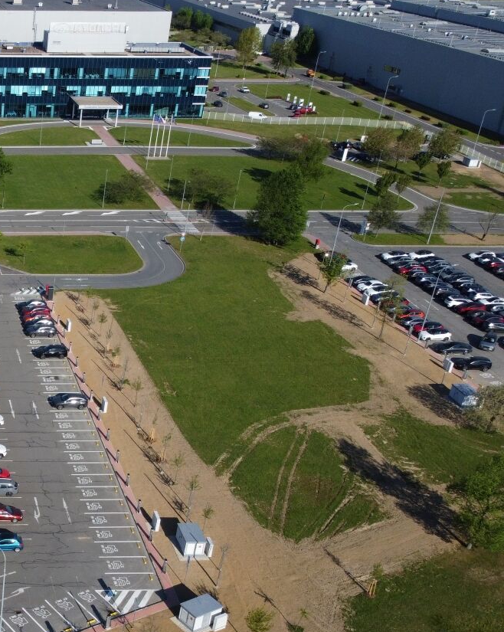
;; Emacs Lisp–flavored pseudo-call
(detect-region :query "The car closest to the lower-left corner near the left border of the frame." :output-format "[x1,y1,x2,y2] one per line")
[0,530,32,552]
